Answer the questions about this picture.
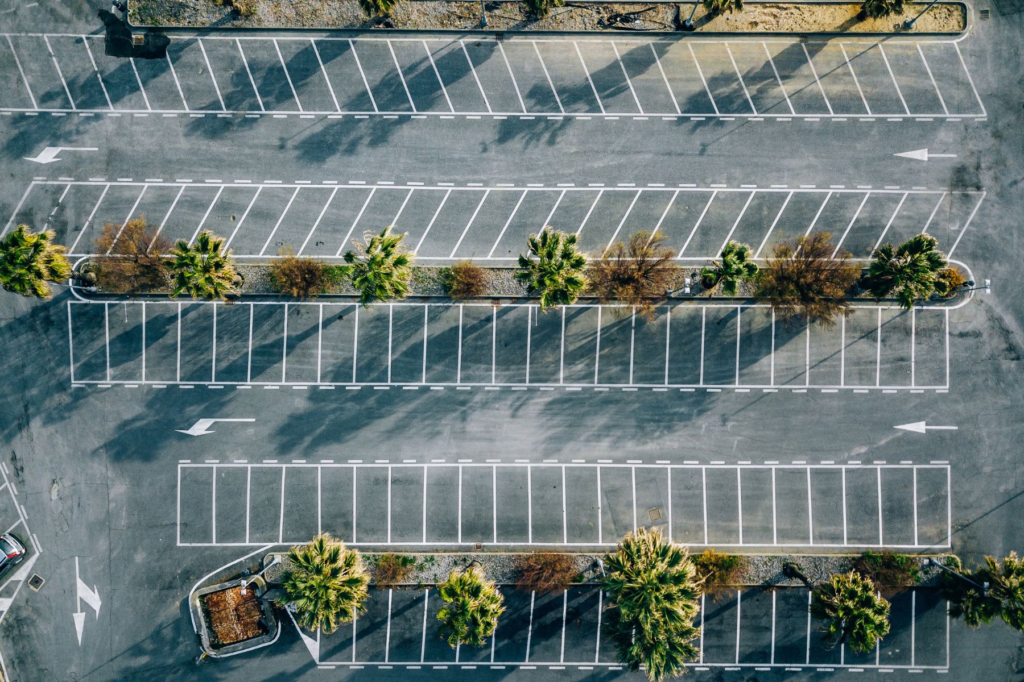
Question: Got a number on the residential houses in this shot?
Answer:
0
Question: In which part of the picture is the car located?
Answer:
bottom left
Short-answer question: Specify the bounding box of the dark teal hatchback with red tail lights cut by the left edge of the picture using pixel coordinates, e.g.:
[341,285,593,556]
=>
[0,536,29,586]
